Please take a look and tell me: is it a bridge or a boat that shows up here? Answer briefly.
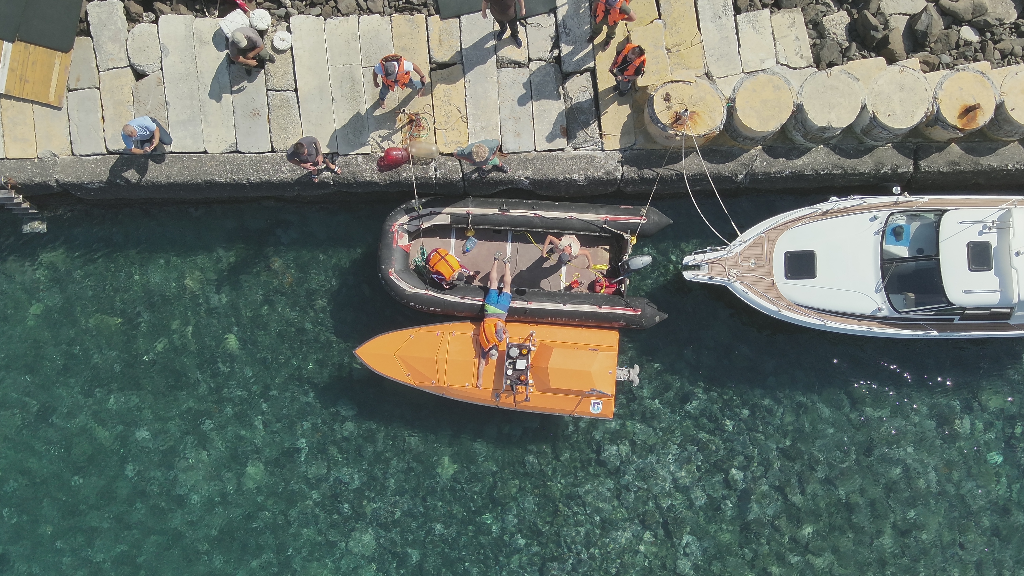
boat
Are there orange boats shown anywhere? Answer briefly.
Yes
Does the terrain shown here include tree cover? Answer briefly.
No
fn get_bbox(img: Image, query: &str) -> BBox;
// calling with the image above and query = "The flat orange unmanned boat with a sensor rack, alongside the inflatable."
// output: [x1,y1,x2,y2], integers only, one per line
[353,319,640,422]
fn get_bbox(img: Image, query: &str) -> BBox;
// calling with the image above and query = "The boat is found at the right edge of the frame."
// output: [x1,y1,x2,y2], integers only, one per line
[683,194,1024,342]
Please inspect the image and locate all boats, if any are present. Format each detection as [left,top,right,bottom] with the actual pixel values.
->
[353,319,640,422]
[378,194,673,330]
[683,194,1024,342]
